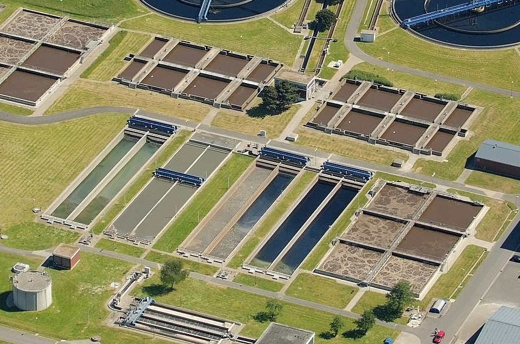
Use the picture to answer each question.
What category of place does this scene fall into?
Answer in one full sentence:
This image shows an industrial area.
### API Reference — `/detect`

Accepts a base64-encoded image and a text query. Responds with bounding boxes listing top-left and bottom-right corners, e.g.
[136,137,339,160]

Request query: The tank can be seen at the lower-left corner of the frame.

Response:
[8,269,51,311]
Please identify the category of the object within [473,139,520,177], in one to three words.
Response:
shed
